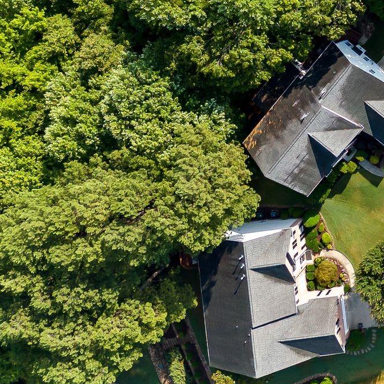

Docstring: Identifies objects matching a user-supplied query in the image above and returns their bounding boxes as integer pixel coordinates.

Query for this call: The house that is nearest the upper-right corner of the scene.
[247,39,384,197]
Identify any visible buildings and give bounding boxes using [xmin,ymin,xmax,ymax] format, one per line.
[197,217,350,378]
[247,39,384,197]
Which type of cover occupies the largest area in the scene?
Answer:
trees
